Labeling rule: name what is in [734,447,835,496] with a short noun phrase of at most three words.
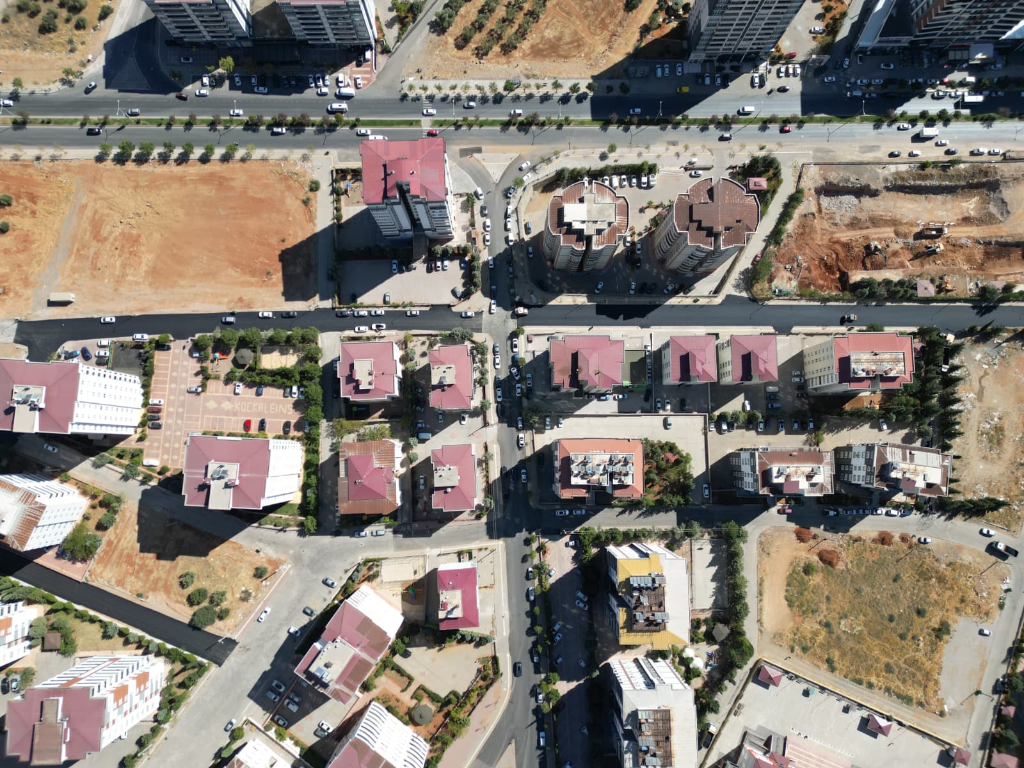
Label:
building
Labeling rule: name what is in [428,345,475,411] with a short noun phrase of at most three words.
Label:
building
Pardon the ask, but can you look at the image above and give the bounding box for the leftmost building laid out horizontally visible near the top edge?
[139,0,249,50]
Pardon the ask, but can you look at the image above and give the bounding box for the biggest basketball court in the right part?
[693,540,727,608]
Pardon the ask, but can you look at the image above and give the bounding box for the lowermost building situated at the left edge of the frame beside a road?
[5,653,163,767]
